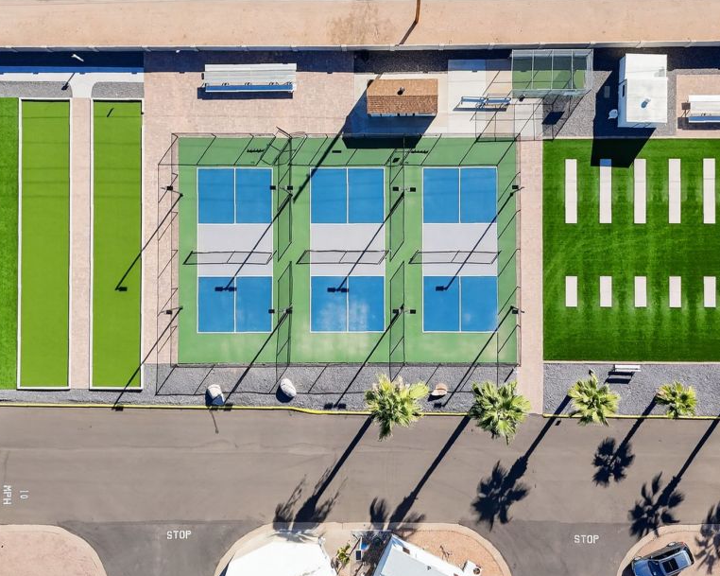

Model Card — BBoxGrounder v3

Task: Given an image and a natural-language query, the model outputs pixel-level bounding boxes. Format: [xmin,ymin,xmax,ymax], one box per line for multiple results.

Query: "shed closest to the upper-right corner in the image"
[610,54,668,132]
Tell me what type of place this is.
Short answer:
sports ground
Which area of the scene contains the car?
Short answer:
bottom right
